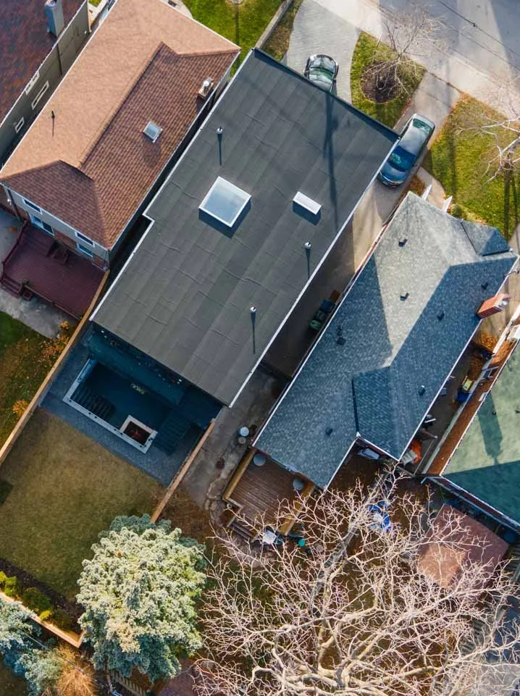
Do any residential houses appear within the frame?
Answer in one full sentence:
Yes, the photo shows a residential house.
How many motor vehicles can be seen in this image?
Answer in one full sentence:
The number of motor vehicles here is 2.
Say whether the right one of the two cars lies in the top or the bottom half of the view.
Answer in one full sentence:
It is in the top half that the right one of the two cars appears.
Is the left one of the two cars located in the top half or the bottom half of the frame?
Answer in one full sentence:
The top half of the photo is where the left one of the two cars is.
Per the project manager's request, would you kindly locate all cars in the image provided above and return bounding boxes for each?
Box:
[374,110,440,194]
[304,50,343,98]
